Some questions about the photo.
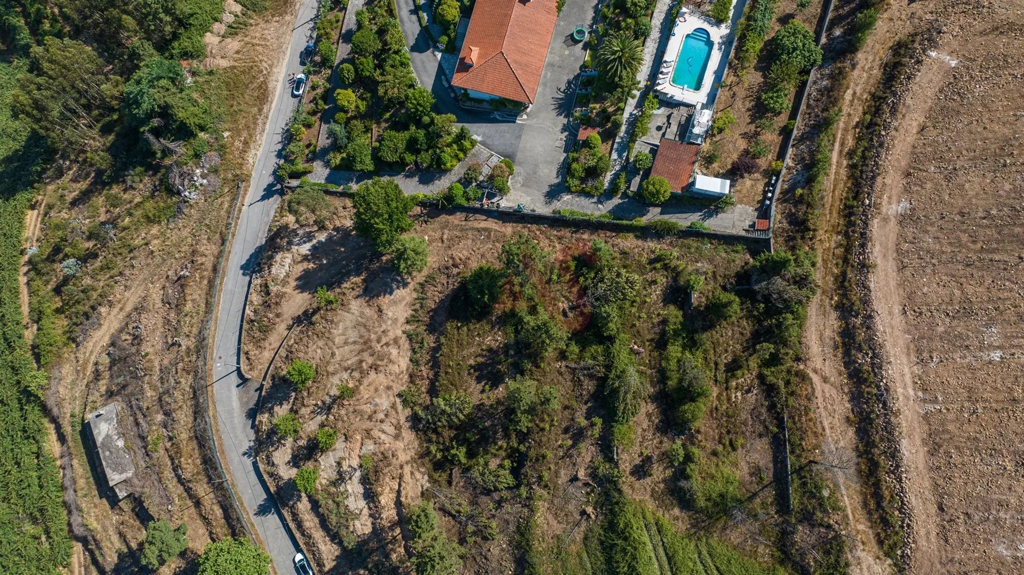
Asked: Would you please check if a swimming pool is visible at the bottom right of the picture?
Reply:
No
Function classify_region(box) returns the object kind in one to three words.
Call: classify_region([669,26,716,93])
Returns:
swimming pool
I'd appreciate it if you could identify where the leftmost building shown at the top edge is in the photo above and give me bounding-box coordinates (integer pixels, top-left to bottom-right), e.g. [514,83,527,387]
[451,0,564,107]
